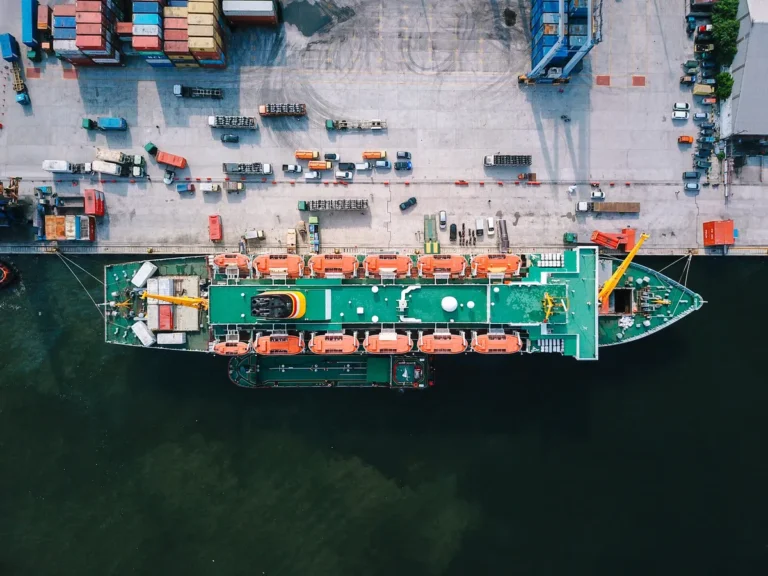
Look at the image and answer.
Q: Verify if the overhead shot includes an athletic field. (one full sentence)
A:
No, I find no athletic field anywhere in the image.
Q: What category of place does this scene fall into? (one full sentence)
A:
It's a port.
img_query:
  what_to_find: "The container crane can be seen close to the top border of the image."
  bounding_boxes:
[524,0,601,81]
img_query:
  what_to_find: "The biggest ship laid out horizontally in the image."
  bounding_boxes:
[97,233,707,359]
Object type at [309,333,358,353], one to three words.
boat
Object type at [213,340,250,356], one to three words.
boat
